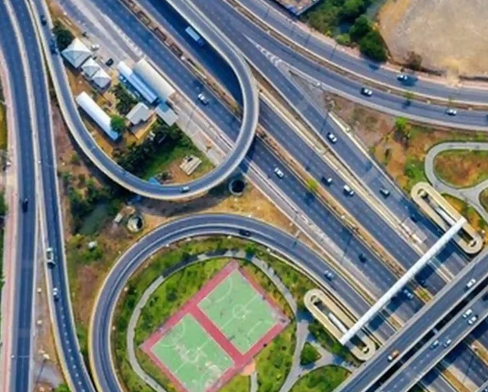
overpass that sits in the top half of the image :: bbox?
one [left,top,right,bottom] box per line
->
[29,0,259,199]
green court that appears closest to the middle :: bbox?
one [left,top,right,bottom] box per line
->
[189,261,290,363]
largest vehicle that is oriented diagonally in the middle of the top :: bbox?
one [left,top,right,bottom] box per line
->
[183,24,203,43]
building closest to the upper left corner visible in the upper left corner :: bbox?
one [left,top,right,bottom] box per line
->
[62,38,96,69]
